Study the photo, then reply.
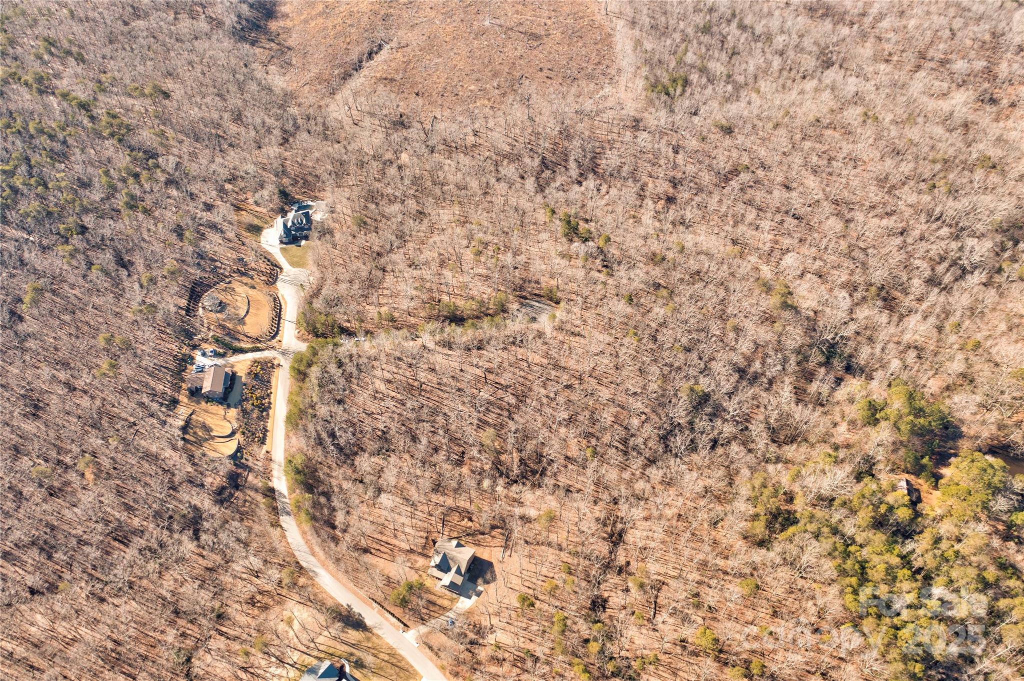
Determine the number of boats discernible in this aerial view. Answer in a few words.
0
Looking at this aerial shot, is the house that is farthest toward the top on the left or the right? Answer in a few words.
left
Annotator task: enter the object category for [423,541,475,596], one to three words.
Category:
house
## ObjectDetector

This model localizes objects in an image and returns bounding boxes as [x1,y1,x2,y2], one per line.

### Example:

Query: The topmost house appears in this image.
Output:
[276,208,313,244]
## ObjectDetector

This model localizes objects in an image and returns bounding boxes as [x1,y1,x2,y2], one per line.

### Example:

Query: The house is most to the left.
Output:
[186,365,235,401]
